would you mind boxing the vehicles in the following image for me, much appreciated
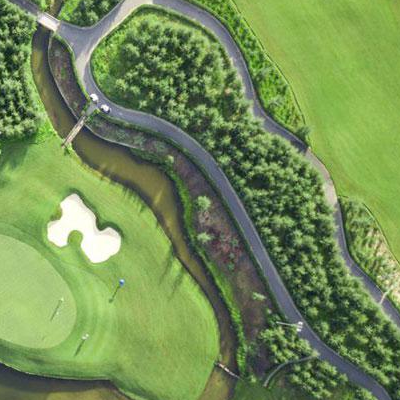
[98,105,108,114]
[88,95,97,105]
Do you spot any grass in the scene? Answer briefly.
Yes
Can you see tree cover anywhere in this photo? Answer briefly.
Yes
